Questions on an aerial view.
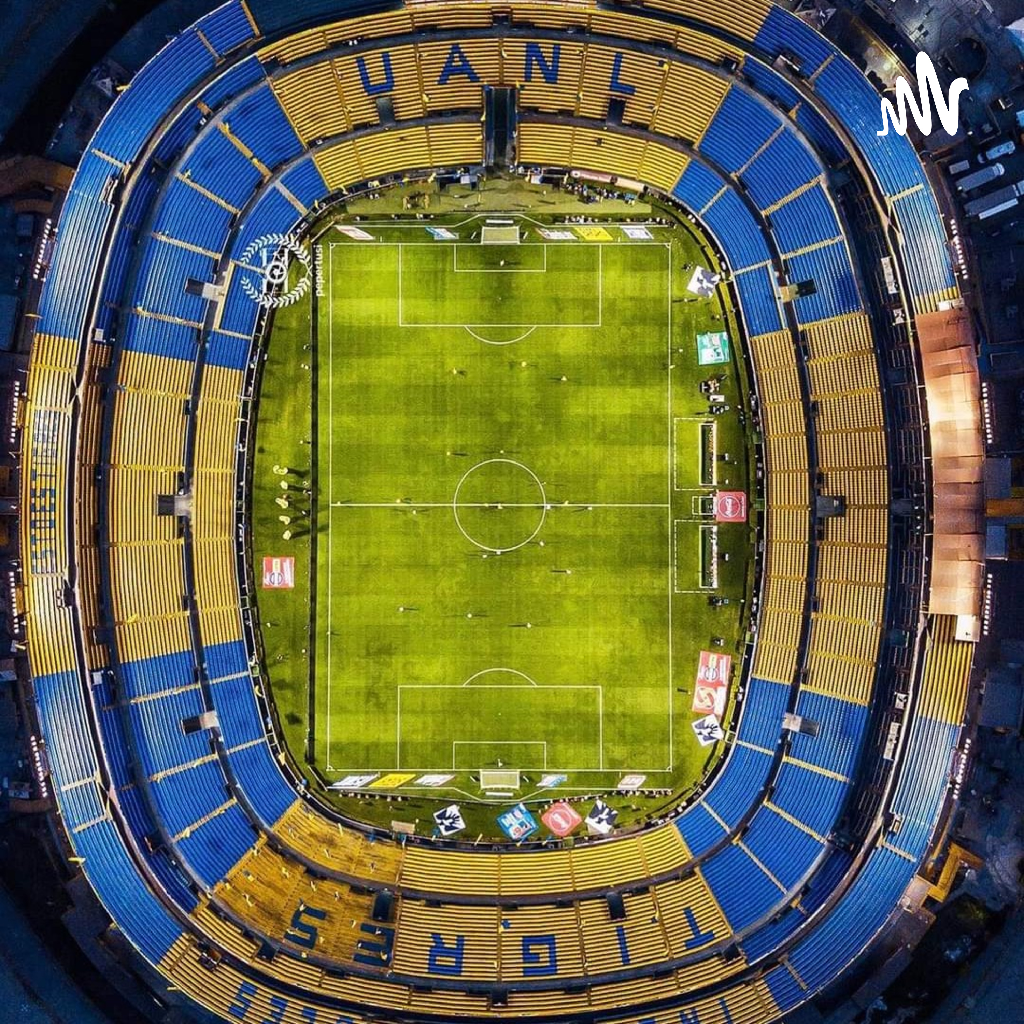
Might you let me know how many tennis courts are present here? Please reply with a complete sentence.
Not a single tennis court can be seen.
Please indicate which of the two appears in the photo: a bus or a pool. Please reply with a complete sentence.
Visible in the photo is a bus.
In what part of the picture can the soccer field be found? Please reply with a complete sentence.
The soccer field is located in the center region of the scene.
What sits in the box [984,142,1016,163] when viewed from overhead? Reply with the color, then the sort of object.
blue vehicle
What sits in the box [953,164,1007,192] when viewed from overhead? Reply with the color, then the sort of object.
blue truck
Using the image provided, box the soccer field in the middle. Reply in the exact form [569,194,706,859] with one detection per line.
[245,173,756,843]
